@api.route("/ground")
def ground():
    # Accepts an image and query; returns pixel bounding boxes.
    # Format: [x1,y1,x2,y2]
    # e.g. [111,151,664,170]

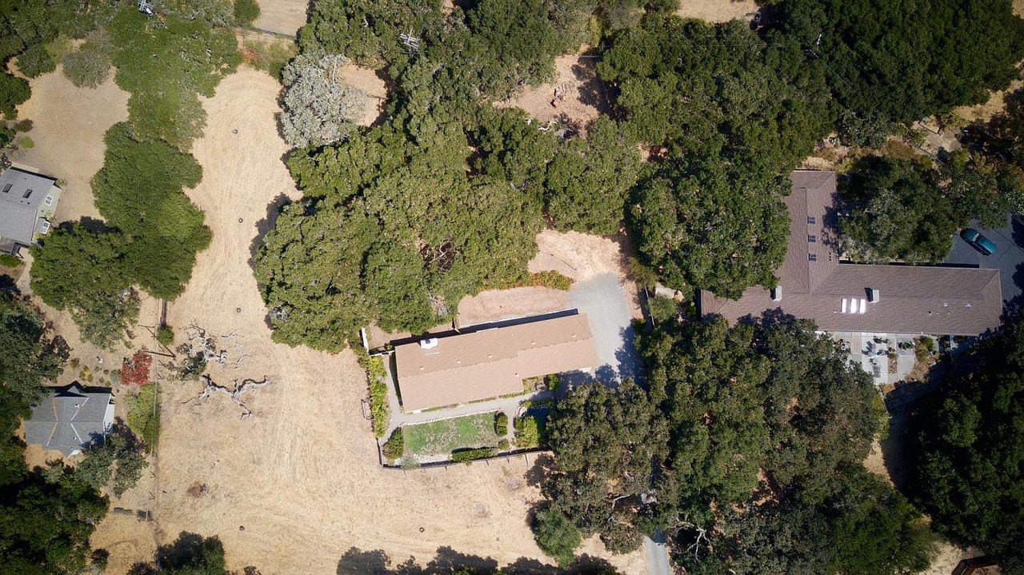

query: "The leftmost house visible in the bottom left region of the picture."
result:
[26,388,120,459]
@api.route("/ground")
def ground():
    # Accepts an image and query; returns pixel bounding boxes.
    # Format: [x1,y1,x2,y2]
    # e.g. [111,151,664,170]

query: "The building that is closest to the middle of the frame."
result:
[395,312,597,413]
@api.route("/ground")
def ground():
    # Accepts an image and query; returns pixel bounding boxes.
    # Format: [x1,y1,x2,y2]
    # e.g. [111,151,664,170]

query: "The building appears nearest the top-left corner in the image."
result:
[0,164,68,256]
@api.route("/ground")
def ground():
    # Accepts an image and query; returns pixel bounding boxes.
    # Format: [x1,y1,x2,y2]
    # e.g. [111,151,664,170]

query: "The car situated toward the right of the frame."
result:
[962,228,1002,257]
